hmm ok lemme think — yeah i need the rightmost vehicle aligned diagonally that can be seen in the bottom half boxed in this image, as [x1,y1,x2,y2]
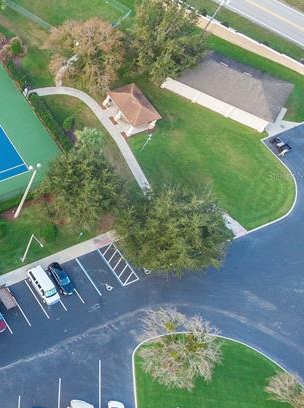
[47,261,75,296]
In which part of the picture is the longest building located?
top right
